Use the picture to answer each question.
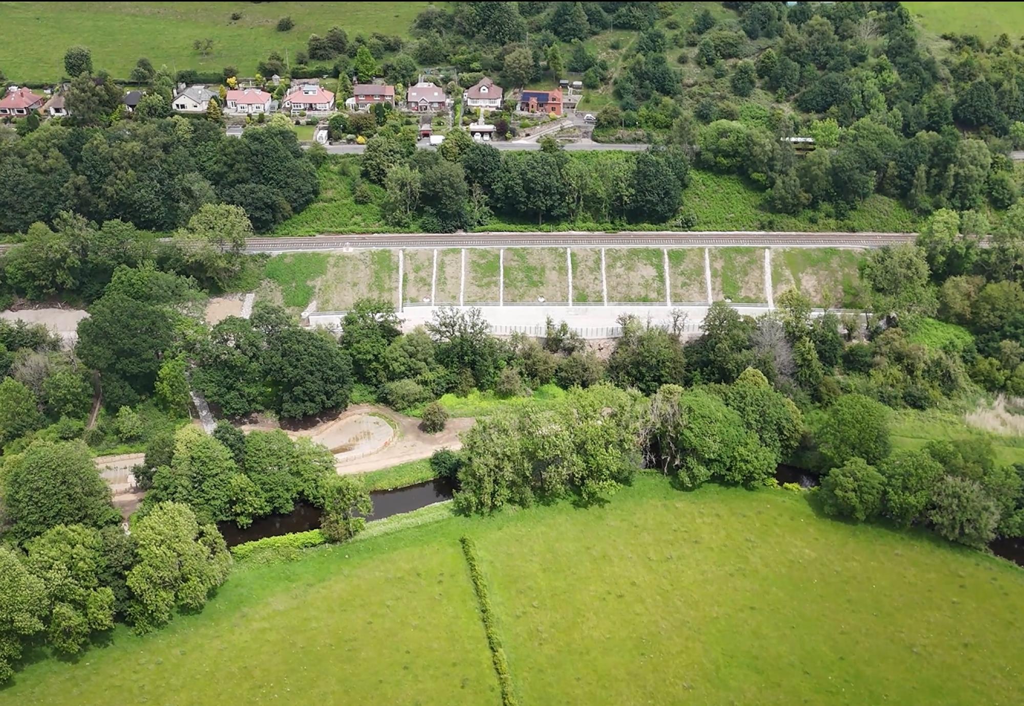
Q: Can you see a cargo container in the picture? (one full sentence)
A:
No, there isn't any cargo container down there.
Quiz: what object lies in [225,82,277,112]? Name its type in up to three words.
house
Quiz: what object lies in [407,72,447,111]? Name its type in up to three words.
house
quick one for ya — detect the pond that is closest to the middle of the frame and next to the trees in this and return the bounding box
[307,413,393,461]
